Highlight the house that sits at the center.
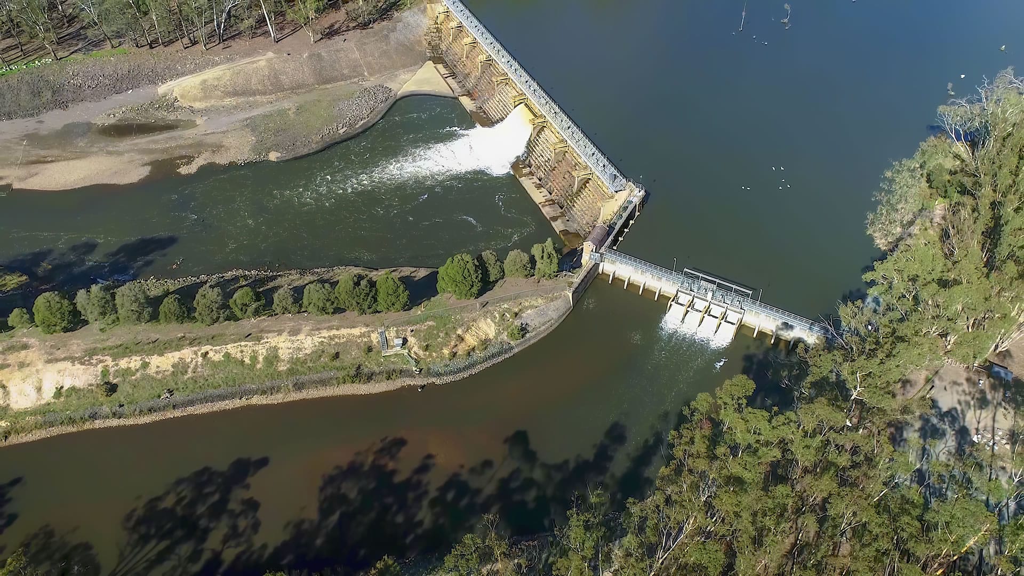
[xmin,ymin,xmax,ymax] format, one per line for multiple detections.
[583,221,609,265]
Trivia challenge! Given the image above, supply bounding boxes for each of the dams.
[436,0,634,242]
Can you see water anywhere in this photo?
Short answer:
Yes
